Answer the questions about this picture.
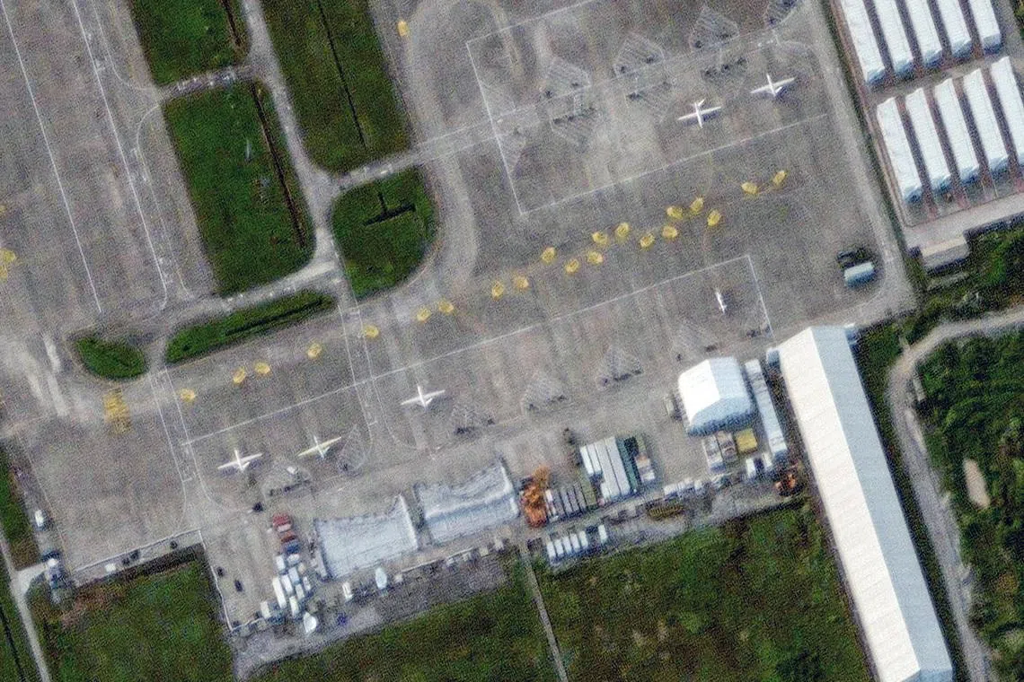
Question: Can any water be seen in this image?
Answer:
No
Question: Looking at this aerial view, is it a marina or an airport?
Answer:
airport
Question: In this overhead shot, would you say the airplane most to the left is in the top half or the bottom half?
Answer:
bottom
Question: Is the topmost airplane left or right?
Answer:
right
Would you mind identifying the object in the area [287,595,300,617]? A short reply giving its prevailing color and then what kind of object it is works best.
white vehicle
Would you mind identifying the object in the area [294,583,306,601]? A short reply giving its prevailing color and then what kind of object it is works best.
white vehicle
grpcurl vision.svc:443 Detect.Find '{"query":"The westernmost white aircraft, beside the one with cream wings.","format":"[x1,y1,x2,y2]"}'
[218,449,261,473]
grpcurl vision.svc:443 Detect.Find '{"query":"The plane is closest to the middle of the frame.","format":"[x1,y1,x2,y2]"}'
[401,385,443,407]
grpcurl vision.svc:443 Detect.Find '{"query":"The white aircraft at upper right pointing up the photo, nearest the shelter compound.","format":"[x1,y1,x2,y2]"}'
[751,74,792,96]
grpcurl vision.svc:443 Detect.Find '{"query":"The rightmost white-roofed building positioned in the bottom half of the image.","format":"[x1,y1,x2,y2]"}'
[778,325,954,682]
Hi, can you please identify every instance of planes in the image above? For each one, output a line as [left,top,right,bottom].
[218,449,261,473]
[716,290,728,313]
[401,385,443,407]
[299,436,341,460]
[751,74,792,96]
[677,102,720,127]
